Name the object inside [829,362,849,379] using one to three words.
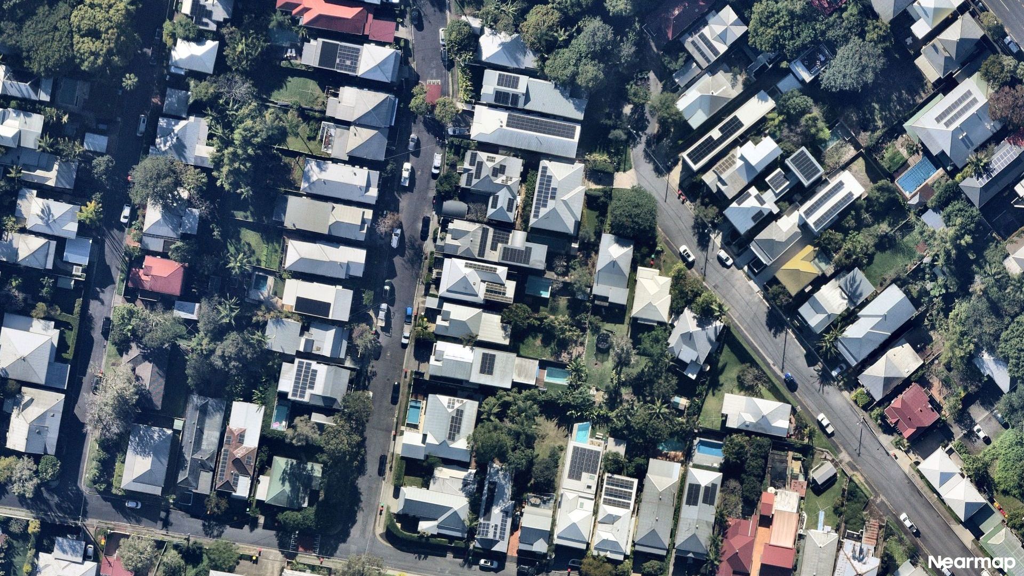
car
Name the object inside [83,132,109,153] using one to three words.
shed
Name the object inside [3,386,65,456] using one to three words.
house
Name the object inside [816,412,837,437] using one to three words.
truck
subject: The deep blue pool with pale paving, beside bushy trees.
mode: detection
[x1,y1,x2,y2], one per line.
[695,439,725,458]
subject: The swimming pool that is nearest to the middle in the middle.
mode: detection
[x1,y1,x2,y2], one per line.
[524,275,553,298]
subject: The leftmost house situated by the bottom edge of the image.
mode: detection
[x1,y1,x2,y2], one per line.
[33,537,98,576]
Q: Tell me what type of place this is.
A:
residential area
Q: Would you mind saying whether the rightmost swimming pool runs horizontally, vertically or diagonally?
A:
diagonally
